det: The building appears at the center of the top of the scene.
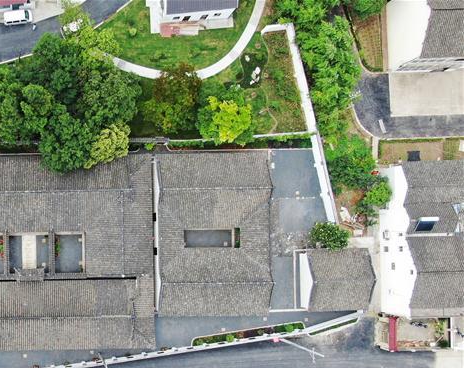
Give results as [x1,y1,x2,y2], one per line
[159,0,247,37]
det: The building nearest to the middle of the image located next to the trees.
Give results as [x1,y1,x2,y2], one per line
[153,152,277,316]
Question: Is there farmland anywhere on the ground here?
No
